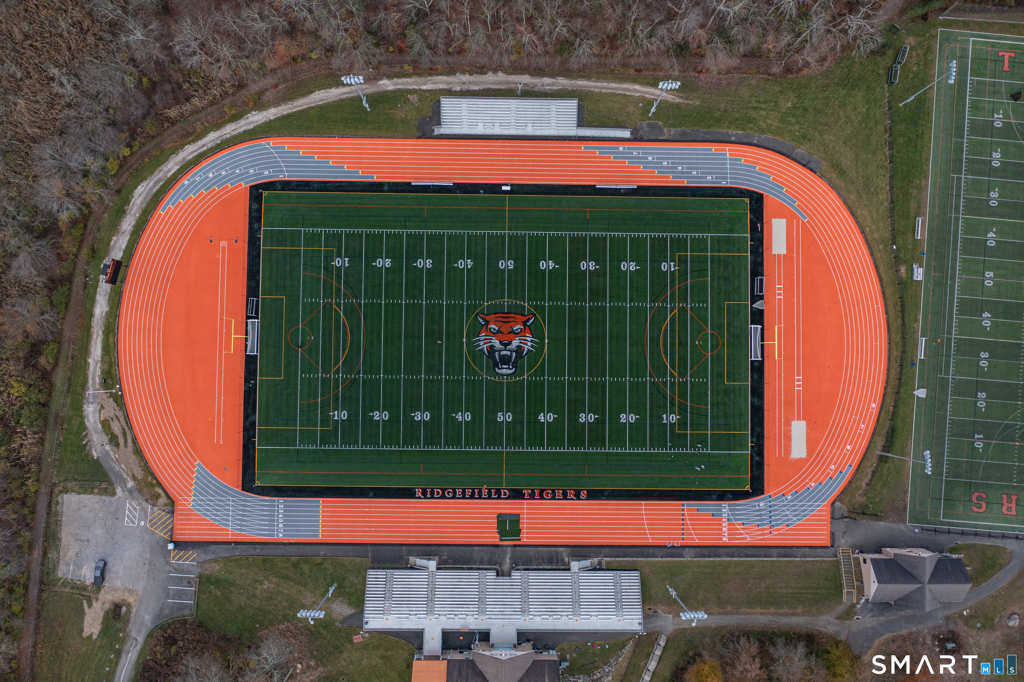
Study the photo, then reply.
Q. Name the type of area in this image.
sports ground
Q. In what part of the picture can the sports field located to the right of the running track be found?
right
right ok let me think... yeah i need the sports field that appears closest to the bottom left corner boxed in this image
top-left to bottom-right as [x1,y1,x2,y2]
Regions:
[241,180,764,502]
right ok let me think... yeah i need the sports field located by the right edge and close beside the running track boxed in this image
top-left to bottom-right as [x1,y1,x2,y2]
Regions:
[907,28,1024,534]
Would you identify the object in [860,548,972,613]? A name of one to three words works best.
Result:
building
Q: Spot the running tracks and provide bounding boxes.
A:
[114,134,891,548]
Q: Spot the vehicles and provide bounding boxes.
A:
[91,560,105,587]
